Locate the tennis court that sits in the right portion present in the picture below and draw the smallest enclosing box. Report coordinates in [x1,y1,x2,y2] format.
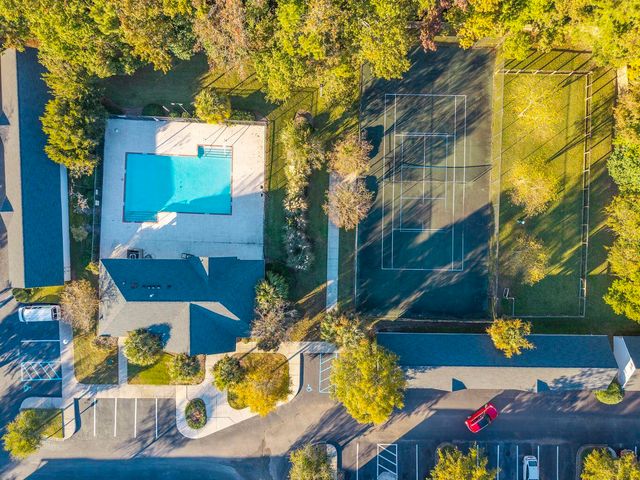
[355,49,494,321]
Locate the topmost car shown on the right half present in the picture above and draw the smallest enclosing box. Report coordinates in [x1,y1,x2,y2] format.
[464,403,496,432]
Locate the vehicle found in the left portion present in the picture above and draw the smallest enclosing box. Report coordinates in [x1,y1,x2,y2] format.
[20,304,64,323]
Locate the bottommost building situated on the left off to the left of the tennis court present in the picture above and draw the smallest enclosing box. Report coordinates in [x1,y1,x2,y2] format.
[98,257,264,358]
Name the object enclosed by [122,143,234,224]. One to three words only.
swimming pool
